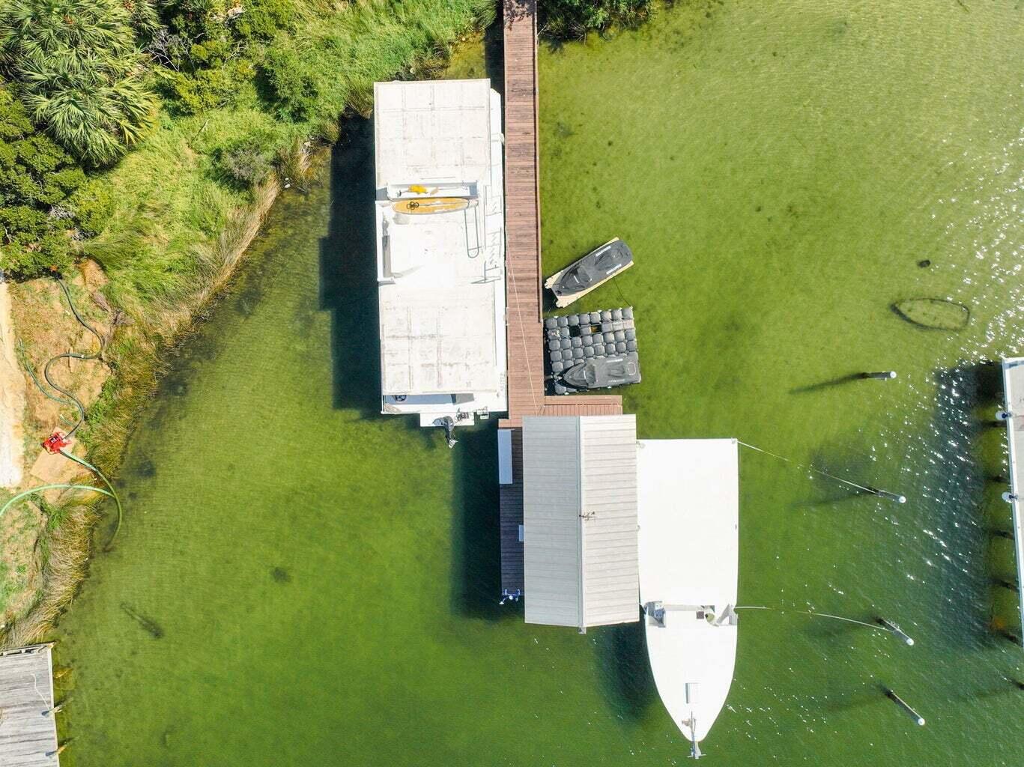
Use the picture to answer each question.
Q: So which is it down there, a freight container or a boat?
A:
boat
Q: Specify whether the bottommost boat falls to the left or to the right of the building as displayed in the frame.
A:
on its right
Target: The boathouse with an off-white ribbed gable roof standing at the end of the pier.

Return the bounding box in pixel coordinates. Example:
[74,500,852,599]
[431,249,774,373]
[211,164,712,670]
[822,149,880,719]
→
[522,414,639,635]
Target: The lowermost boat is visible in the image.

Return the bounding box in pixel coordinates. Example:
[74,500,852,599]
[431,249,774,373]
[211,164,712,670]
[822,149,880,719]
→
[637,439,739,755]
